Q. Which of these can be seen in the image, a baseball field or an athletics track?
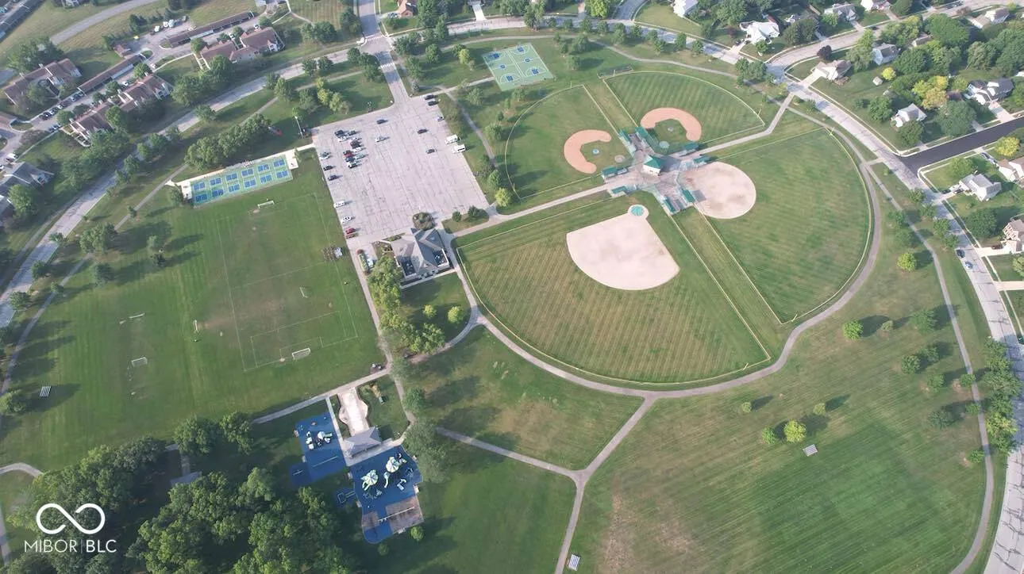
baseball field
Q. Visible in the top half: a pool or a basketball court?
basketball court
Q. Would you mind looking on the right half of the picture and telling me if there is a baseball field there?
Yes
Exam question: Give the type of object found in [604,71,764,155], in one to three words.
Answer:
baseball field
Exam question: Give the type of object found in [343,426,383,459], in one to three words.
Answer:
building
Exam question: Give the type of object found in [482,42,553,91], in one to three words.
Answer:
basketball court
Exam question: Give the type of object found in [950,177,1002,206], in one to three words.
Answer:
house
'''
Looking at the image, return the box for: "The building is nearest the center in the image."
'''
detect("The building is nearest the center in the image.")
[391,229,448,279]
